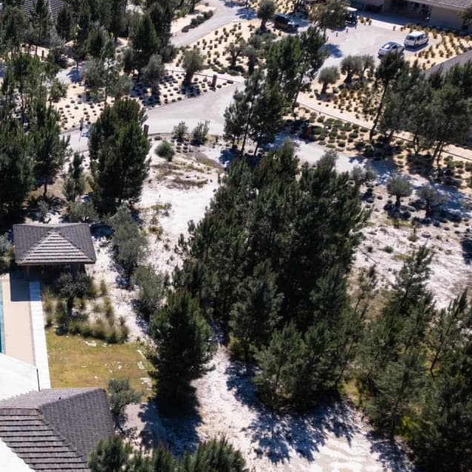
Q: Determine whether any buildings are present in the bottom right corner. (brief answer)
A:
No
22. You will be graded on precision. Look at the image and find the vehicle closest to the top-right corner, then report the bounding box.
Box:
[402,30,433,47]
